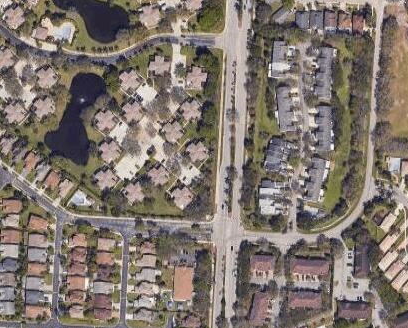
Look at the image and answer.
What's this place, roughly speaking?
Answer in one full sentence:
This looks like a residential area.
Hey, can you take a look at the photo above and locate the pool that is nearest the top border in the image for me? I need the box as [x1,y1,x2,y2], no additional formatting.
[56,23,74,40]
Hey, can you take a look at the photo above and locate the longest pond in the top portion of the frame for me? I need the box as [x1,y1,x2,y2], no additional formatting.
[43,71,106,166]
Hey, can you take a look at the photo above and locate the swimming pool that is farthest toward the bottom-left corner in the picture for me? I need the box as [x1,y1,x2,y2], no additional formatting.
[71,190,91,209]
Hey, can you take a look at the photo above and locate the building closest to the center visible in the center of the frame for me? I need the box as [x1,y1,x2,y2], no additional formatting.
[184,140,208,162]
